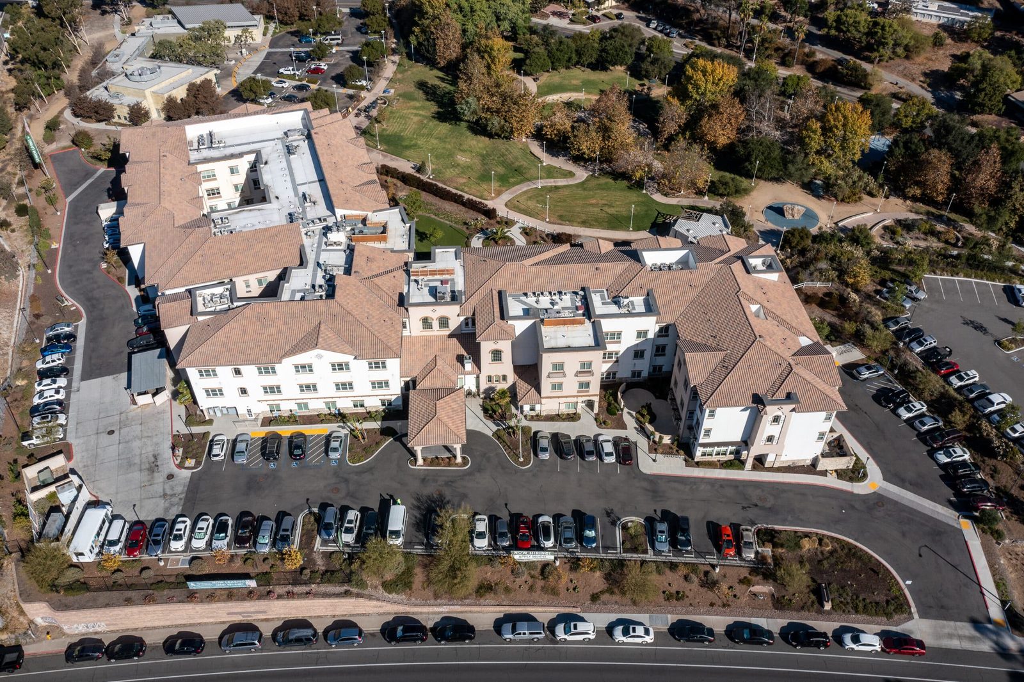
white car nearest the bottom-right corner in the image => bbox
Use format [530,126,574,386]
[840,632,883,655]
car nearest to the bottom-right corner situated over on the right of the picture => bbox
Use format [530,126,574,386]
[880,635,928,659]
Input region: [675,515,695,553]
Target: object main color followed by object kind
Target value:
black car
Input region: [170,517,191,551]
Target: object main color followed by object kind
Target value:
white car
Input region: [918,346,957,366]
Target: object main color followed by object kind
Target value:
black vehicle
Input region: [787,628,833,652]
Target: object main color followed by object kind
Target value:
black car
